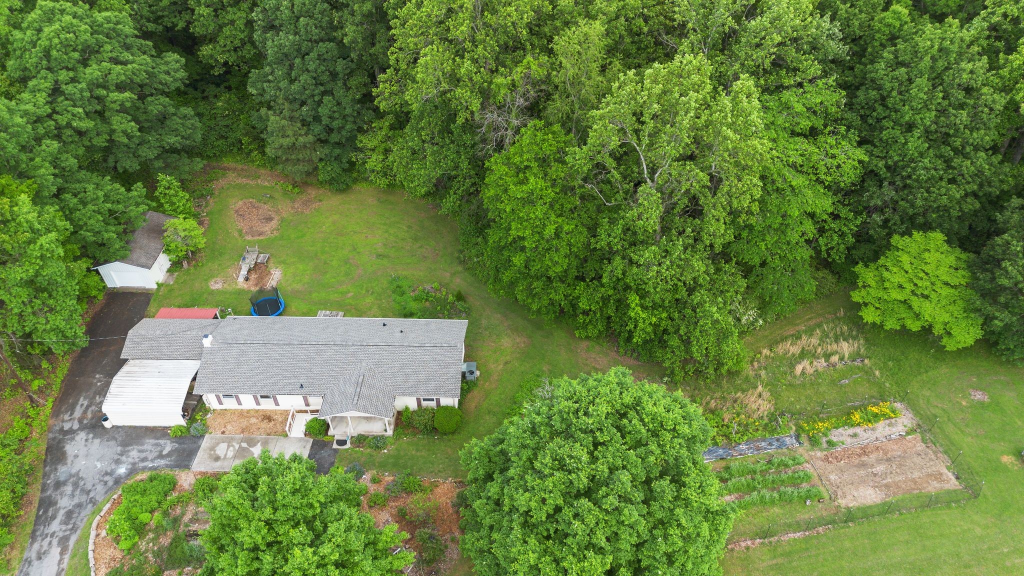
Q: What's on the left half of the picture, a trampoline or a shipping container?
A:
trampoline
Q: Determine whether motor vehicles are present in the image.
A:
No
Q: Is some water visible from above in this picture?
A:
No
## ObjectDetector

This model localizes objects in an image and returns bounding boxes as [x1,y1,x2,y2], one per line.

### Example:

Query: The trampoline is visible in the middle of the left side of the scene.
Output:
[242,283,286,315]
